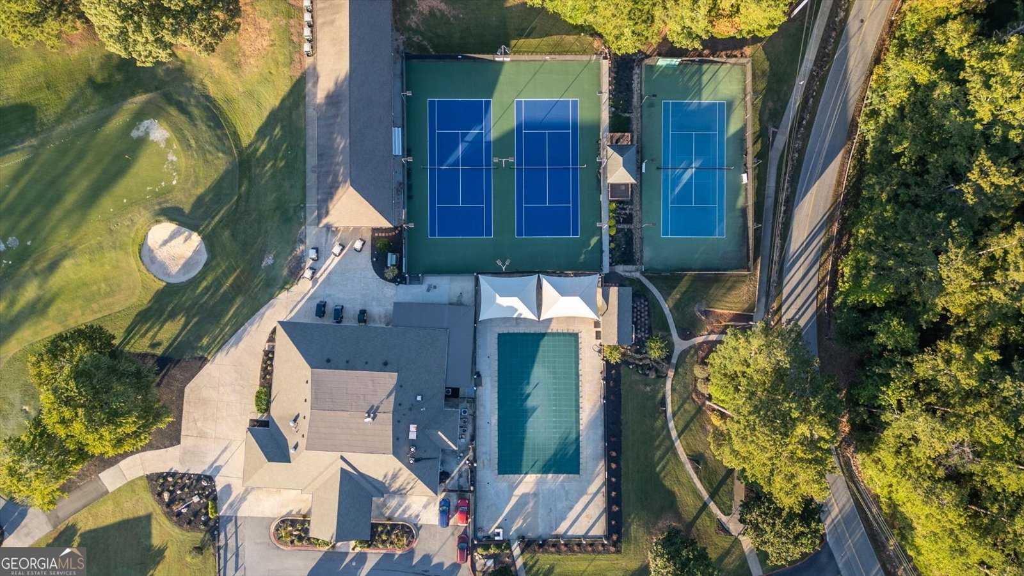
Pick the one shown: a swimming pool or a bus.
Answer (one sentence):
Of the two, only a swimming pool appears.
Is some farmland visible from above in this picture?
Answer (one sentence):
No, no farmland is visible.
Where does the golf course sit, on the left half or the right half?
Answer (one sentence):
The golf course sits on the left side.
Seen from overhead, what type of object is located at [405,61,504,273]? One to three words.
tennis court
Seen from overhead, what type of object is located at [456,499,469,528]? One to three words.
vehicle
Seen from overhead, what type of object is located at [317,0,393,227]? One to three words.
barn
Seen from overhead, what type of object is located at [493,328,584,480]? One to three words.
swimming pool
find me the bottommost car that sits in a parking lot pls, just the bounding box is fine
[455,536,468,566]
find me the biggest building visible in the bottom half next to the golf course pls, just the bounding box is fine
[242,321,460,543]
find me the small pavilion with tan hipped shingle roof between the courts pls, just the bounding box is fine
[606,144,636,183]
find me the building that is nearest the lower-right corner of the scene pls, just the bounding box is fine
[601,286,635,345]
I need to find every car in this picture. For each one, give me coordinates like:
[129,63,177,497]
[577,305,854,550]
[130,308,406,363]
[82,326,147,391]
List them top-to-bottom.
[437,499,450,530]
[456,499,469,528]
[455,536,468,566]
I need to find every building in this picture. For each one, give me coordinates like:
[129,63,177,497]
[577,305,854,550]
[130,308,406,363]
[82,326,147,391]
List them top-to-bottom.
[317,0,393,227]
[606,144,636,183]
[601,286,635,345]
[242,321,460,543]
